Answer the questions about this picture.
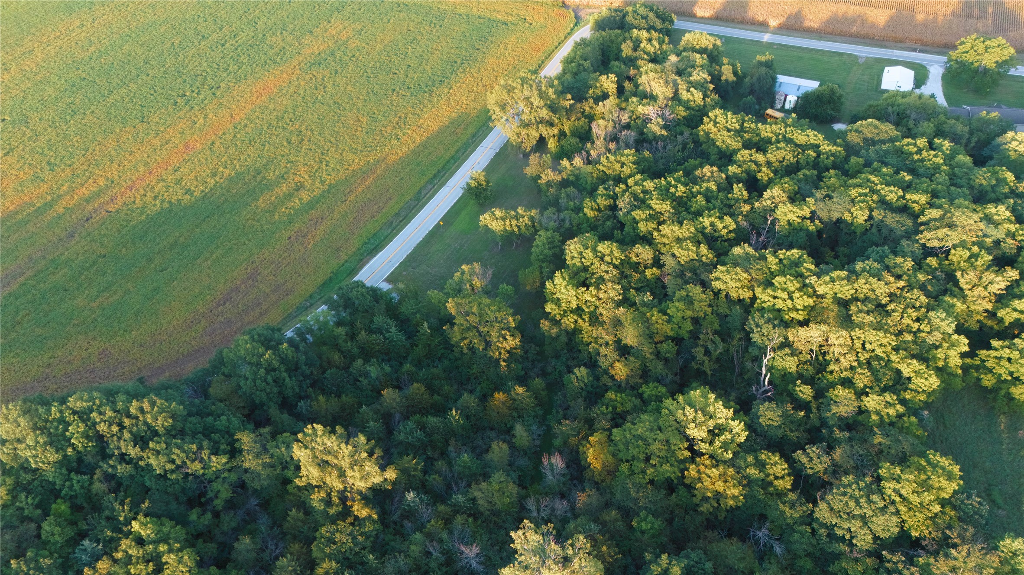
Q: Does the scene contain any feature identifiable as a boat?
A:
No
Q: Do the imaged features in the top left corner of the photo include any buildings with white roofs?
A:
No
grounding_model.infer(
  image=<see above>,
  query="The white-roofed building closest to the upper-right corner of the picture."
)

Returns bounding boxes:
[882,66,916,93]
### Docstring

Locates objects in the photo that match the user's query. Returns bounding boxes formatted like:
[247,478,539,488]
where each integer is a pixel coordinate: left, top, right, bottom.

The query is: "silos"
[782,95,797,113]
[771,91,785,111]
